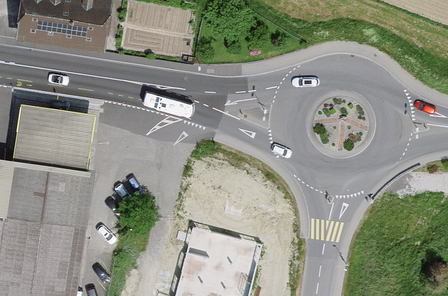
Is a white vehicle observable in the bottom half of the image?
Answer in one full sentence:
Yes, the scene does show a white vehicle in the bottom half of the image.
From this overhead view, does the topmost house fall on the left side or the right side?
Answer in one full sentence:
You can find the topmost house on the left side of the picture.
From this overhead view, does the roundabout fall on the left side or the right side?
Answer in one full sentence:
The roundabout appears in the right half of the scene.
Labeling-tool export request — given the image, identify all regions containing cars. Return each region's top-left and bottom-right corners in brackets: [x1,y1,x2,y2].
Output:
[128,174,144,193]
[50,74,70,85]
[87,286,98,296]
[104,194,120,213]
[94,262,110,282]
[414,101,436,114]
[114,180,131,199]
[273,144,292,157]
[98,224,116,242]
[294,76,320,88]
